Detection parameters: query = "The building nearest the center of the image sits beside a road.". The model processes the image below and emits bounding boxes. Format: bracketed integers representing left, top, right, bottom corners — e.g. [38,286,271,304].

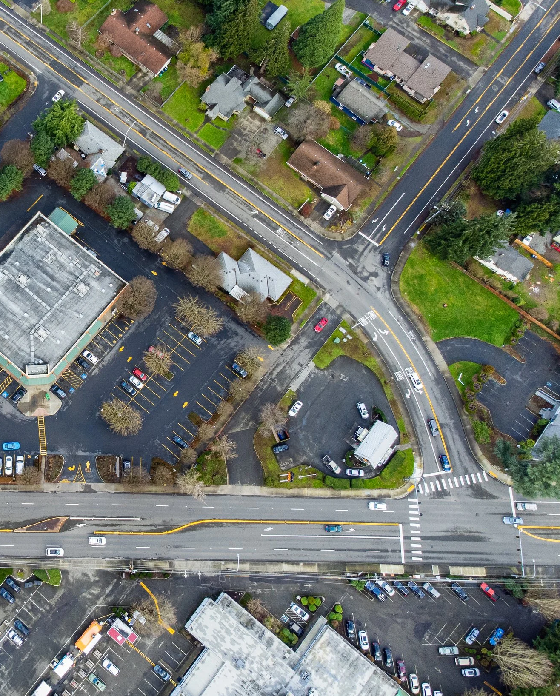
[213,247,293,302]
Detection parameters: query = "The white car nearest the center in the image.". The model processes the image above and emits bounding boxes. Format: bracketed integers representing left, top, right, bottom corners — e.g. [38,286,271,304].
[288,400,302,417]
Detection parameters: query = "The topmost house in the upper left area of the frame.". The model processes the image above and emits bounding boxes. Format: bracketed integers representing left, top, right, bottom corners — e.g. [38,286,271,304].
[98,0,174,78]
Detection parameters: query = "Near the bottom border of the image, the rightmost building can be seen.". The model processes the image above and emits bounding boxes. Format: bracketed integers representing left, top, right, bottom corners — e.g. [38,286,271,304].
[164,591,409,696]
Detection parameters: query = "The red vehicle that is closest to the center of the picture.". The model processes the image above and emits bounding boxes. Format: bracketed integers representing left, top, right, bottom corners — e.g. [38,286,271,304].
[314,318,327,333]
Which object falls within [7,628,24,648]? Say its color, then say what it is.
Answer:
white car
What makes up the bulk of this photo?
paved ground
